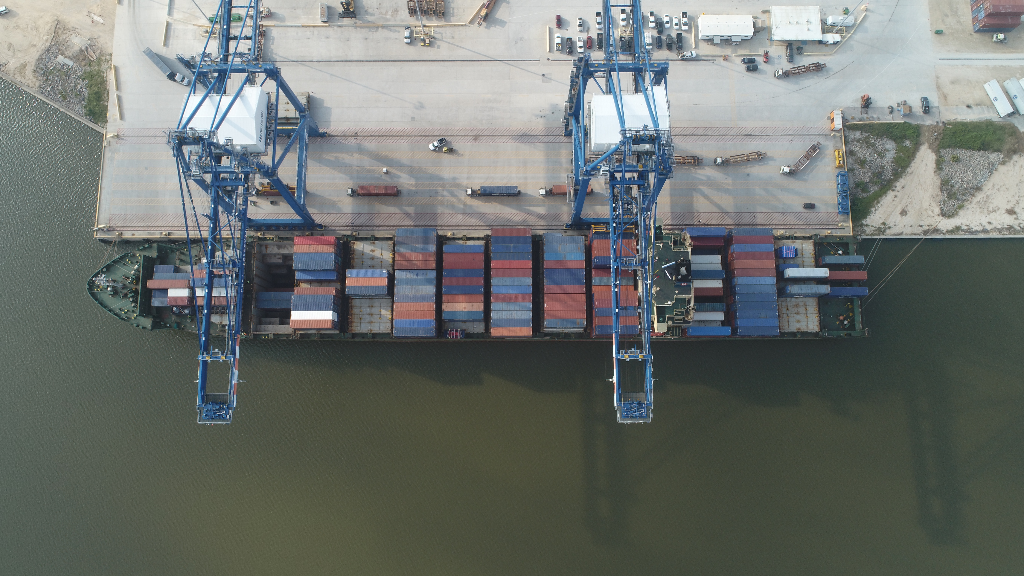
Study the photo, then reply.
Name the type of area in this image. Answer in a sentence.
It's a port.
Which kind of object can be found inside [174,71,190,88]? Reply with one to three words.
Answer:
vehicle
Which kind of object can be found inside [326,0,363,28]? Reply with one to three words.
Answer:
work vehicle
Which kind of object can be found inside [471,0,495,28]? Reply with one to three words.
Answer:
truck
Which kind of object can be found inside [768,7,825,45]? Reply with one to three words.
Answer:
building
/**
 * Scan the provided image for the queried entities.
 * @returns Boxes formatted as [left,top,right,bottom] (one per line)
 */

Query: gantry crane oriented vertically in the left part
[161,0,327,426]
